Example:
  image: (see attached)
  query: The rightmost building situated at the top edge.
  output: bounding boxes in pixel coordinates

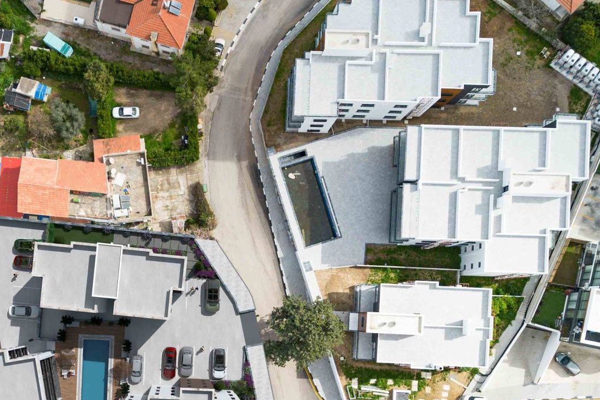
[530,0,583,27]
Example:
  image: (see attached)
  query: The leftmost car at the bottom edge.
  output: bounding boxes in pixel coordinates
[130,354,144,385]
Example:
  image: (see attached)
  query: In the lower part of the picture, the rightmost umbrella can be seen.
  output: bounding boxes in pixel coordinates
[112,361,131,379]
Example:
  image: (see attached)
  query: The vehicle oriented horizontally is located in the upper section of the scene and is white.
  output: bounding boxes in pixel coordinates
[111,105,140,119]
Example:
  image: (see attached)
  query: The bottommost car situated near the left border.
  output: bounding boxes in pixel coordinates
[8,304,38,319]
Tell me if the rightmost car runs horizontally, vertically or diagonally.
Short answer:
diagonally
